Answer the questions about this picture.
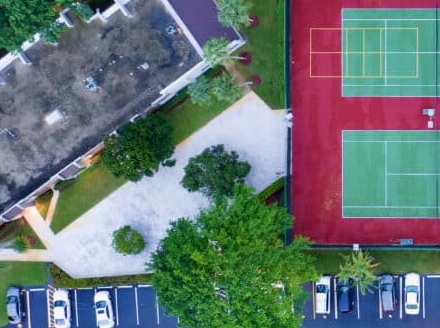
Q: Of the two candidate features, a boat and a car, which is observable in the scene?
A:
car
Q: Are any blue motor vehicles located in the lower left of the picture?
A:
Yes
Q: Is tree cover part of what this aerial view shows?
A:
Yes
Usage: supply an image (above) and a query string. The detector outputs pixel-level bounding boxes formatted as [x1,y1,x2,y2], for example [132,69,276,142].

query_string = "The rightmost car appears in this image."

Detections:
[403,273,421,314]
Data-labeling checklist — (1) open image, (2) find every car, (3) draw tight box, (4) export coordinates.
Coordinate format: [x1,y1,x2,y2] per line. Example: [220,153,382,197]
[379,275,396,312]
[93,290,115,328]
[314,275,332,316]
[403,273,421,314]
[3,286,25,325]
[336,277,353,316]
[51,289,72,328]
